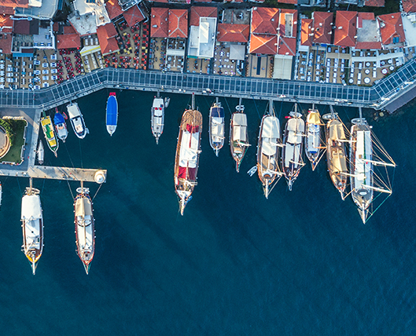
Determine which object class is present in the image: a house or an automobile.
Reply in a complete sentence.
Visible in the photo is a house.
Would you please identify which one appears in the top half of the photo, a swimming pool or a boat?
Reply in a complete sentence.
What appears in the top half of the photo is a boat.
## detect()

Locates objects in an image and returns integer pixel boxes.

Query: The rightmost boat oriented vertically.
[343,108,393,223]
